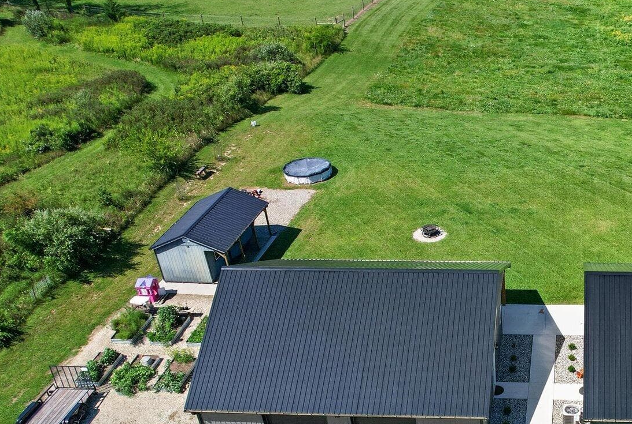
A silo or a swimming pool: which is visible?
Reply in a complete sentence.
This aerial view contains a swimming pool.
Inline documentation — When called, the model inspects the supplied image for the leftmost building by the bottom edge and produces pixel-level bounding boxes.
[184,257,512,424]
